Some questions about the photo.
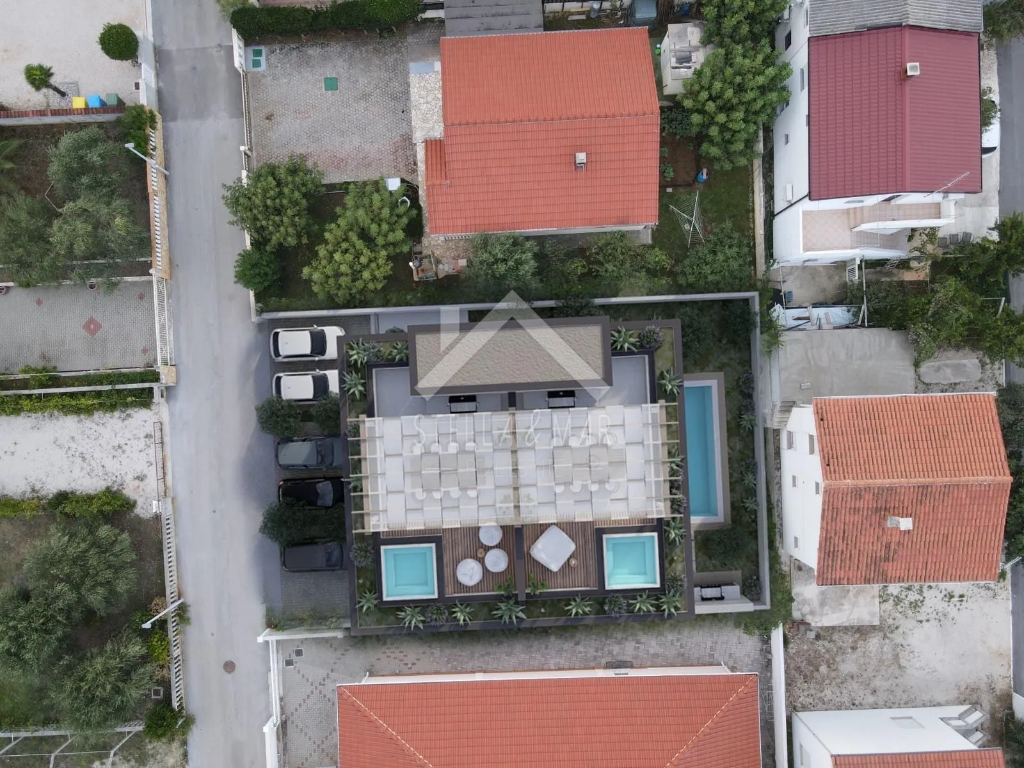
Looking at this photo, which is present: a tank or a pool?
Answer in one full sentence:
There is a pool in the scene.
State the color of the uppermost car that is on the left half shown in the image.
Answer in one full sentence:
In this view, the uppermost car that is on the left half is white.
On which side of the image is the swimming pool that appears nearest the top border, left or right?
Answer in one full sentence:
The swimming pool that appears nearest the top border is on the right side of the image.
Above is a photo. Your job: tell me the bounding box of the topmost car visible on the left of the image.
[273,325,347,361]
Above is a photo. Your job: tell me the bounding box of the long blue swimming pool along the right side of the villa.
[683,372,731,530]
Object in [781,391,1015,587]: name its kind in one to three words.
house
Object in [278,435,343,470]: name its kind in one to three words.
car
